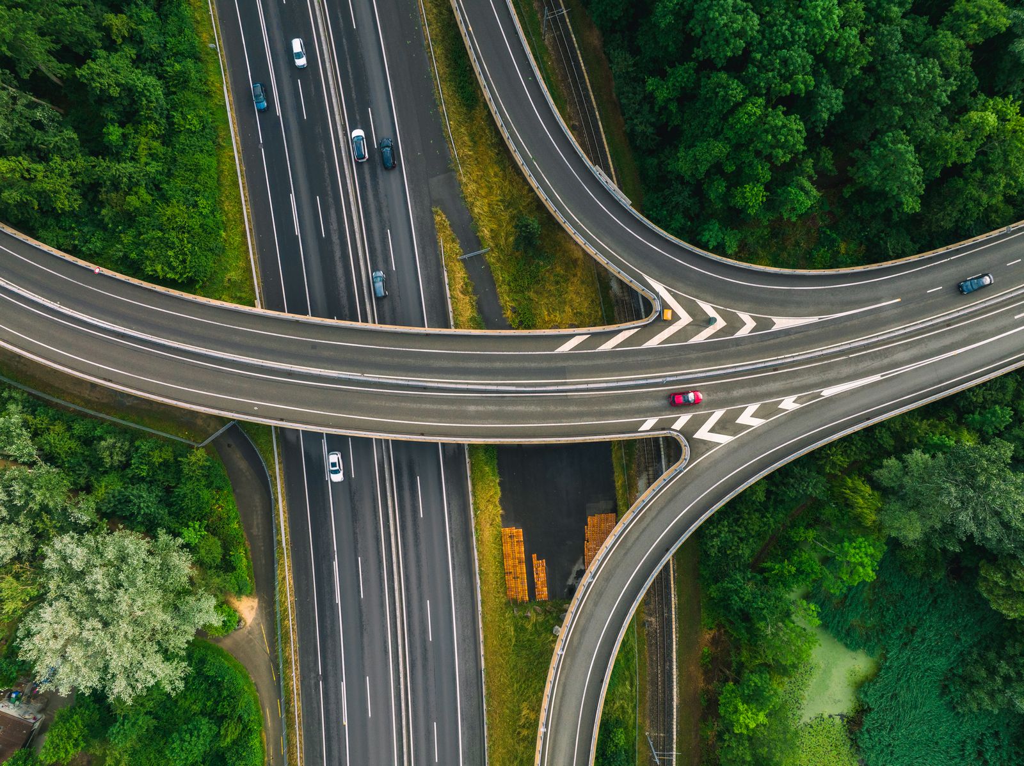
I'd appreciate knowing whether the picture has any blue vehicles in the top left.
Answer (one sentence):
Yes, a blue vehicle is visible in the top left.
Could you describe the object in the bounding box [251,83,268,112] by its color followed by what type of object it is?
blue car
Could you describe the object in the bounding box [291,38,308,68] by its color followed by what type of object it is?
white car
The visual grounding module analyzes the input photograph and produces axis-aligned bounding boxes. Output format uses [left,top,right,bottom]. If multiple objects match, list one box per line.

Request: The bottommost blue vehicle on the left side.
[372,271,387,297]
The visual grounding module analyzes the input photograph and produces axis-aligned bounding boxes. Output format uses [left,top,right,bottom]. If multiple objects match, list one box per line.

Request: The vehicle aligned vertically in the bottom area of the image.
[329,452,344,482]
